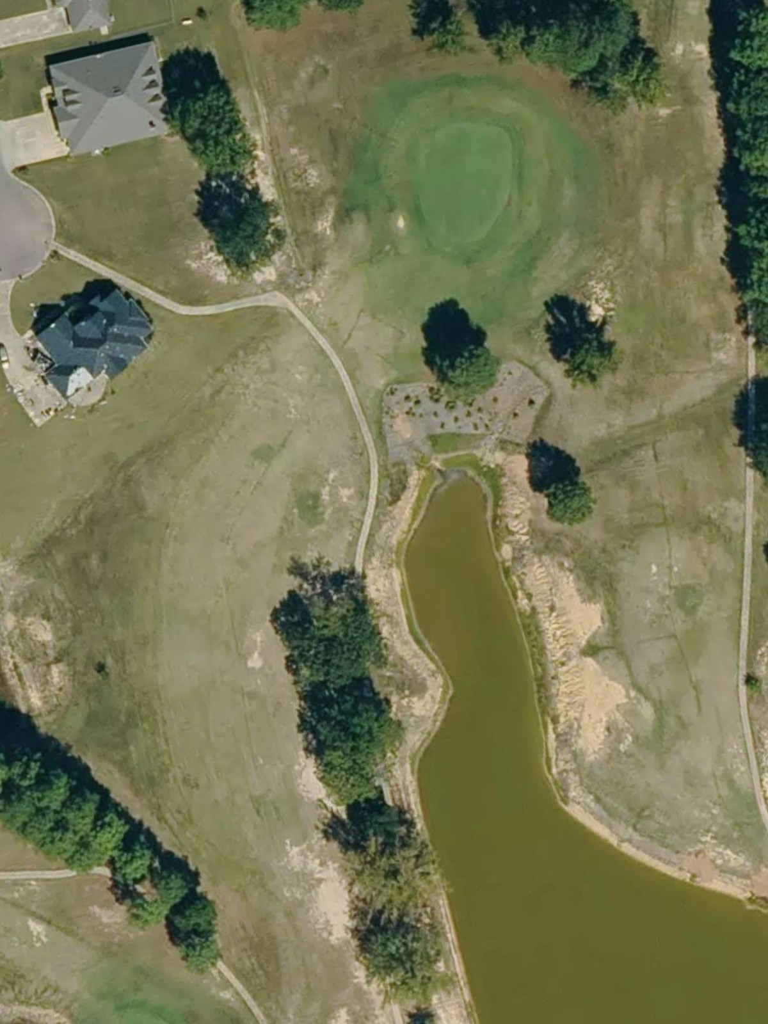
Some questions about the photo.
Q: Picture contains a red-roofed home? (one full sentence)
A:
No, the picture doesn't show any red-roofed home.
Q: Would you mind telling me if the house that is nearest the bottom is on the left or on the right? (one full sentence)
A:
The house that is nearest the bottom is on the left side of the image.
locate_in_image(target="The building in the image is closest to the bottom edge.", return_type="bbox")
[37,289,153,397]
